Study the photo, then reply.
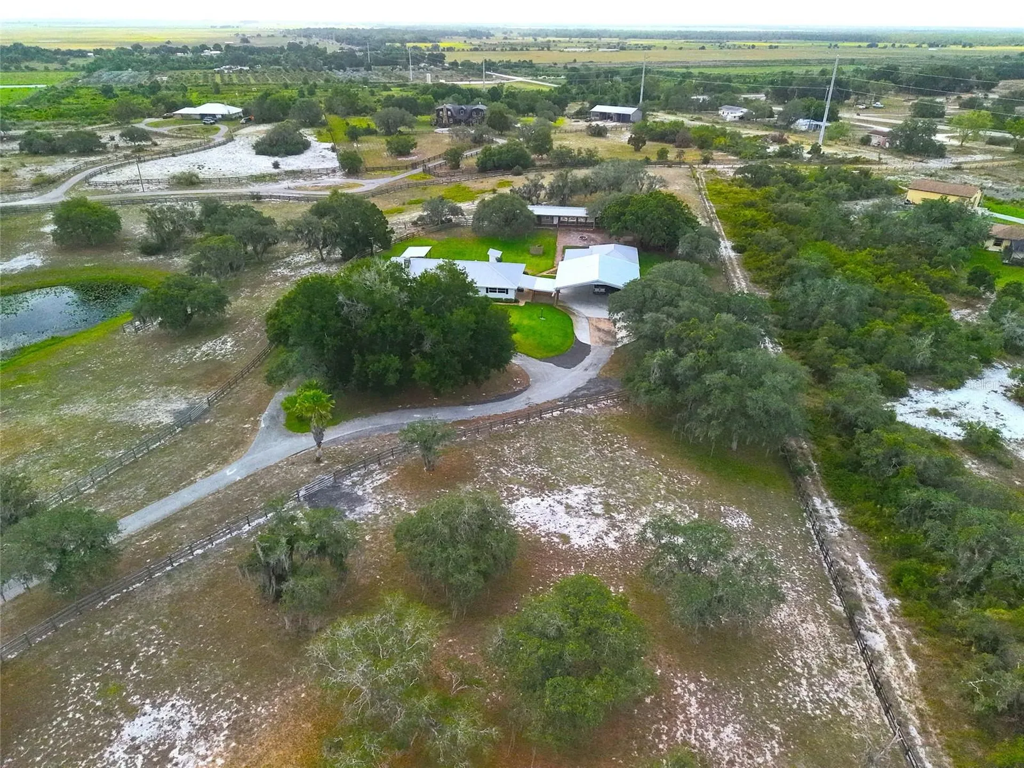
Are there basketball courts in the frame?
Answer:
No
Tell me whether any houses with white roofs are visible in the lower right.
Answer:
No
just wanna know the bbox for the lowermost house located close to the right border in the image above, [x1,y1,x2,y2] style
[984,225,1024,256]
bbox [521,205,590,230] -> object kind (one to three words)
building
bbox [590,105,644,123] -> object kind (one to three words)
shed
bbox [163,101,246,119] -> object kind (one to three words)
house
